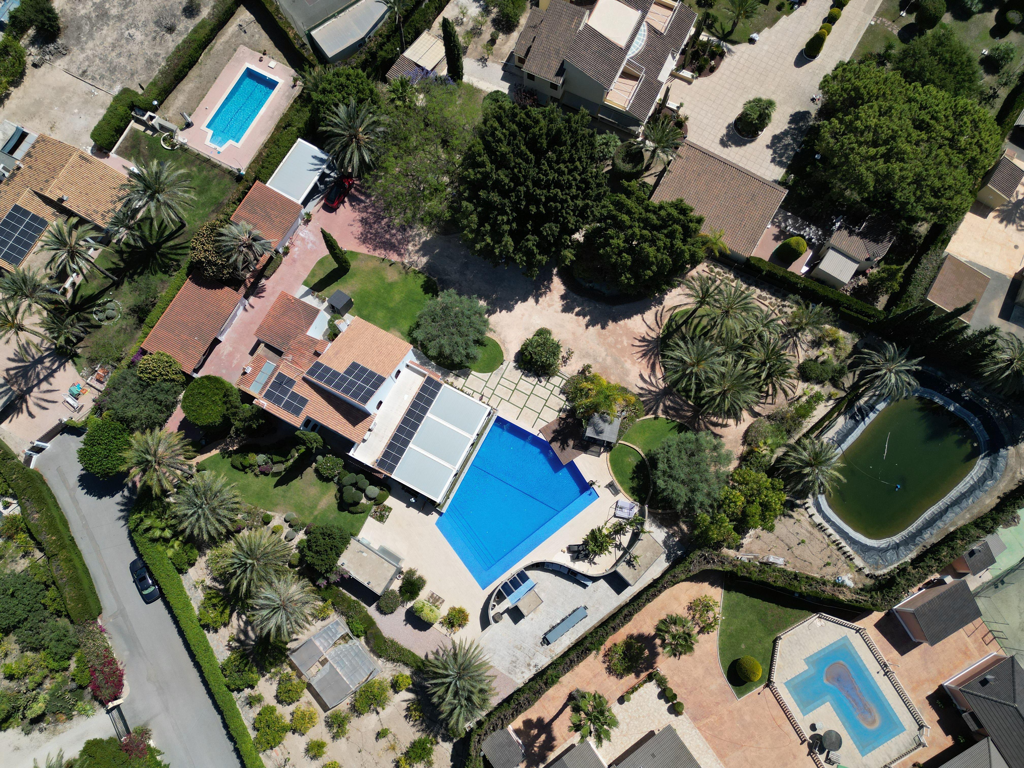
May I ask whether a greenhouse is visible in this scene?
Yes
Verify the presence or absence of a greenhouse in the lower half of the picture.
Yes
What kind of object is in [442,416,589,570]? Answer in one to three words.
swimming pool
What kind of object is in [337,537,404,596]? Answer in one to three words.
building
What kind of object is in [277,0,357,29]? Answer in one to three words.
tennis court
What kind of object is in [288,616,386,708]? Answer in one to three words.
greenhouse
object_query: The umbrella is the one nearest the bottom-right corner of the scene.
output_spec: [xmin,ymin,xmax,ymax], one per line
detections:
[820,727,843,753]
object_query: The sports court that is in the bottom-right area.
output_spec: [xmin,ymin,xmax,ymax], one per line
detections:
[972,510,1024,664]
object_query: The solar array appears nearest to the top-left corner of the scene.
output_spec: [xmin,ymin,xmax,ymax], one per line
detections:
[0,204,47,265]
